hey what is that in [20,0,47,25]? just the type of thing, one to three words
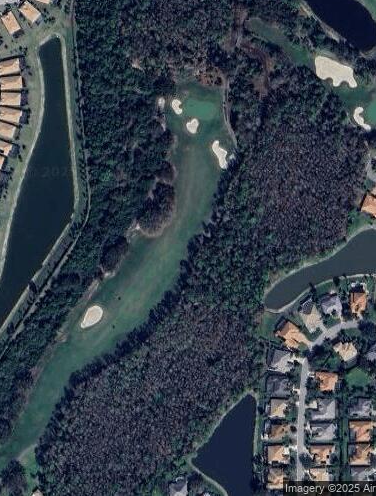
house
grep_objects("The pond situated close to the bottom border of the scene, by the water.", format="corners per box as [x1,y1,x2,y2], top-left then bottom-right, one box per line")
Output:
[192,395,257,496]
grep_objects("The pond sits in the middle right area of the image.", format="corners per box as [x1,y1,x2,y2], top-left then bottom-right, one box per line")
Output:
[265,228,376,310]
